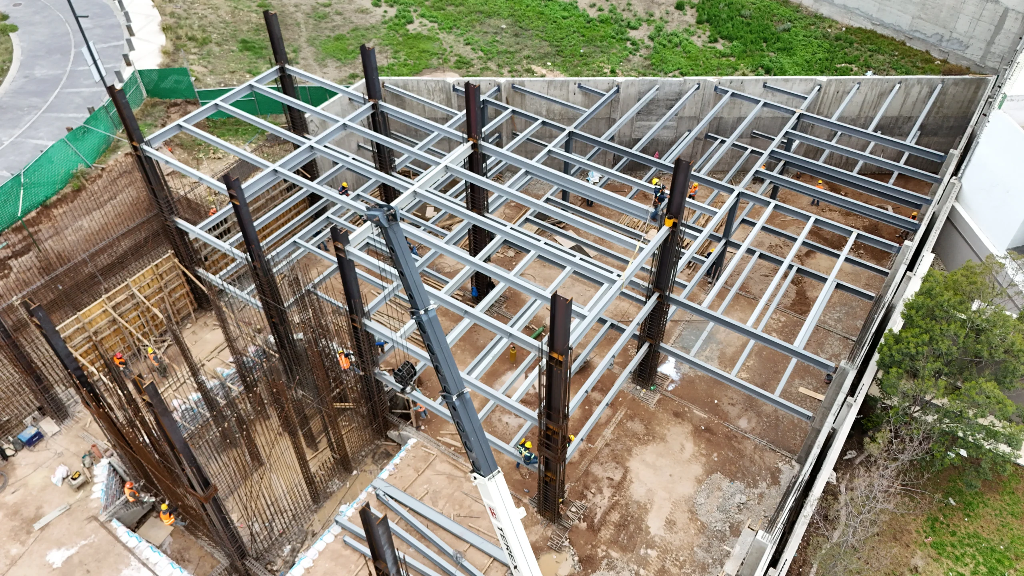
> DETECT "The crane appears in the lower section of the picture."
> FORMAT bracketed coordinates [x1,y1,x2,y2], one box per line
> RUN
[371,213,537,576]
